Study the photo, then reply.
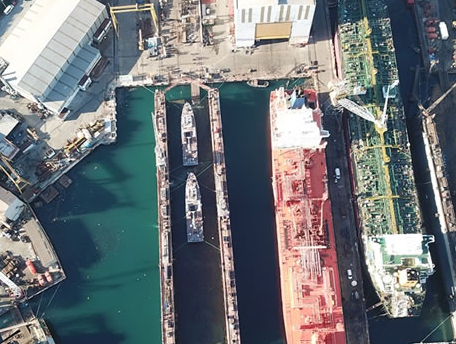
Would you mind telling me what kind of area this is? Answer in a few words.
port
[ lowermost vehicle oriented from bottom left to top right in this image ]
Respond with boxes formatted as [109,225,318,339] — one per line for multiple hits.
[40,146,58,160]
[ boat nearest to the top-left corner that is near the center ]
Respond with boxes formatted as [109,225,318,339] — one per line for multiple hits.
[180,102,198,169]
